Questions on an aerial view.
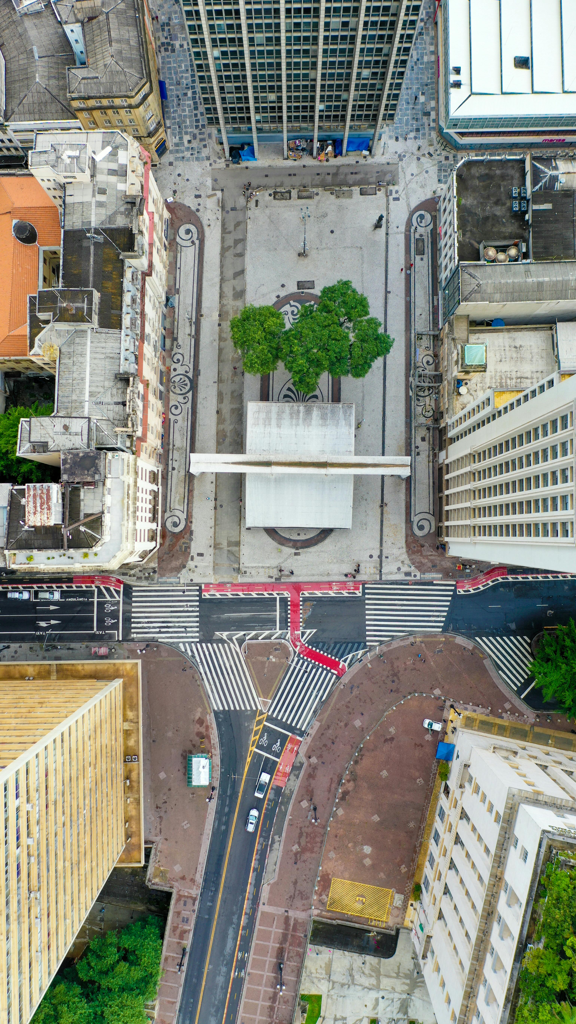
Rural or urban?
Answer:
urban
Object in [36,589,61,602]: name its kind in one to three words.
vehicle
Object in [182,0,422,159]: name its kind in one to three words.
building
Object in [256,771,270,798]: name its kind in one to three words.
vehicle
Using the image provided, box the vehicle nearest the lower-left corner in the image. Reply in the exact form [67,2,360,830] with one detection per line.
[246,807,259,833]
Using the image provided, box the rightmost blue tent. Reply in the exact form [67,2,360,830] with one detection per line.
[433,738,458,762]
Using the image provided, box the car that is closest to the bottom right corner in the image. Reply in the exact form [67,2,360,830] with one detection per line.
[421,718,445,735]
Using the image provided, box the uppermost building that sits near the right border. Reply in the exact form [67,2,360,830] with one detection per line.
[432,0,576,152]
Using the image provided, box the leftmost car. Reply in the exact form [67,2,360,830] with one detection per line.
[6,589,31,601]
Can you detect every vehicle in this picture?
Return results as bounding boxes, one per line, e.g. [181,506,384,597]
[256,771,270,798]
[6,589,31,601]
[246,807,259,833]
[36,589,61,602]
[421,718,445,735]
